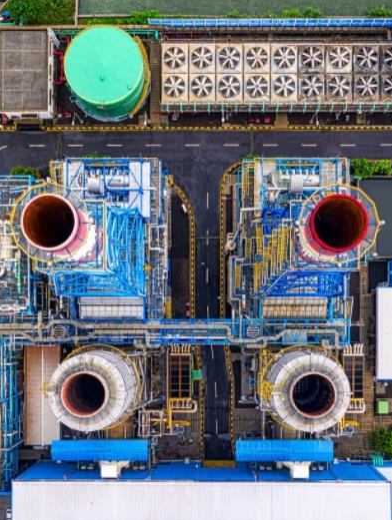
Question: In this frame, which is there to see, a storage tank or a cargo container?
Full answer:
The image shows a storage tank.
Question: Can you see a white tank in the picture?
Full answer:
No, no white tank is visible in the scene.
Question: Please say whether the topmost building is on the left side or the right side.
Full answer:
The topmost building appears in the left half of the scene.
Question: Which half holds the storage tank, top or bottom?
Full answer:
The storage tank is in the top half of the image.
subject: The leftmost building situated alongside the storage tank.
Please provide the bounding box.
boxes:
[0,28,57,122]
